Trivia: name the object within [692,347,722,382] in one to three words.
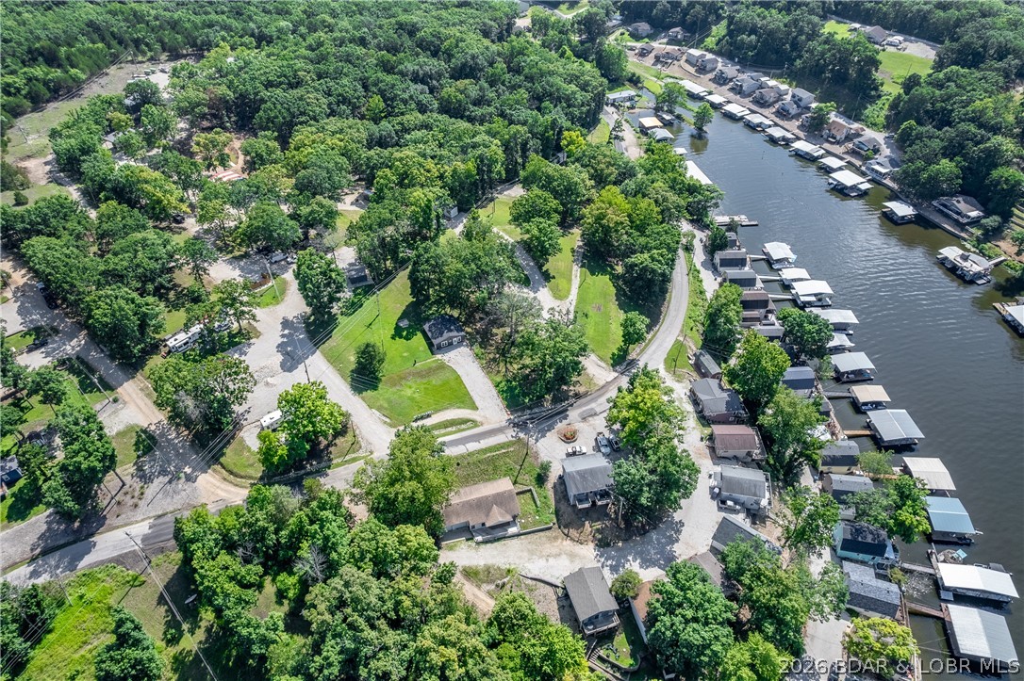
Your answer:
shed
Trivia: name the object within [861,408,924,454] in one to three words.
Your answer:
pier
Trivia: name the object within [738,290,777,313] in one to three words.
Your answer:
house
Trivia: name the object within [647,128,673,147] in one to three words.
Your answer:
pier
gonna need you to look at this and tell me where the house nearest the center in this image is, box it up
[424,316,465,351]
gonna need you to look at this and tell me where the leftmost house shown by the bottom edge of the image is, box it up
[563,566,625,649]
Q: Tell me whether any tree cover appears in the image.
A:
Yes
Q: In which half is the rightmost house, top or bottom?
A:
top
